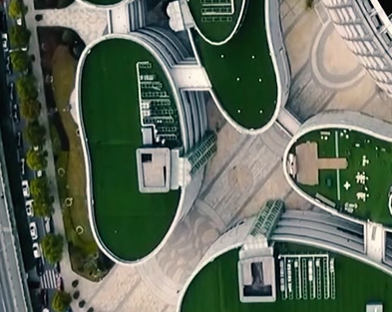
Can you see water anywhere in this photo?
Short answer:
No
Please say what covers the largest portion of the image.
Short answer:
buildings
